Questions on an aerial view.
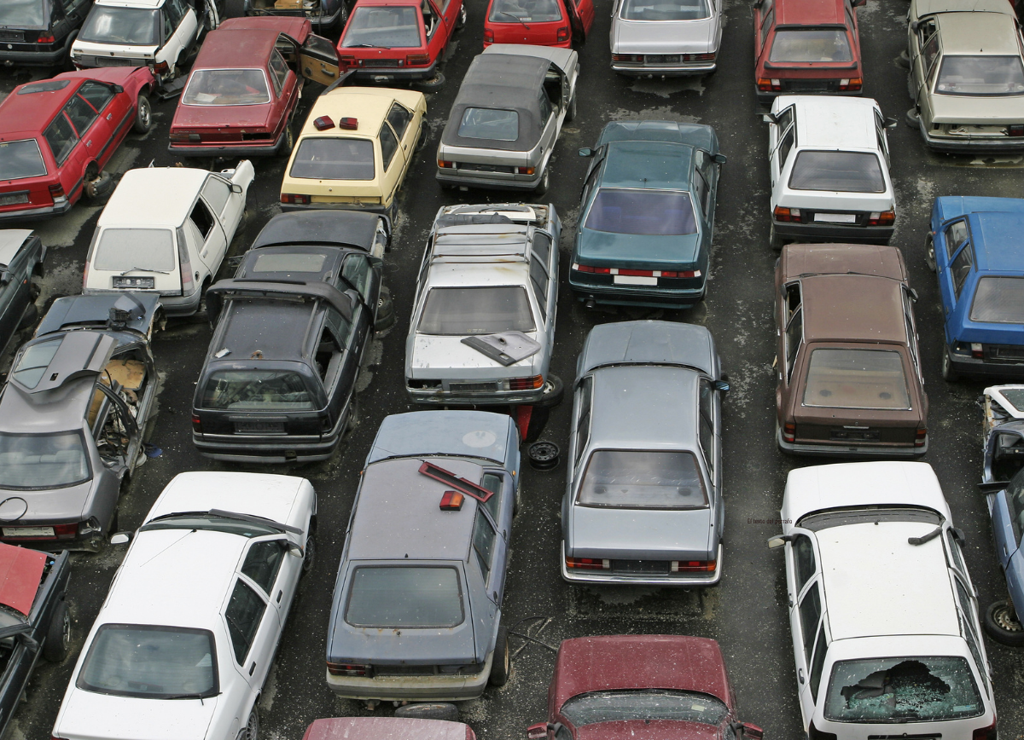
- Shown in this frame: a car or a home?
car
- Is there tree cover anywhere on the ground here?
No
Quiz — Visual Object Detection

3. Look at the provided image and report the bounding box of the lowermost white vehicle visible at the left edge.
[50,470,309,740]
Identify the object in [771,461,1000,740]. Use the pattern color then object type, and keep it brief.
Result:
white car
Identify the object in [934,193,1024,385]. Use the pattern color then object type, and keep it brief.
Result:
blue car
